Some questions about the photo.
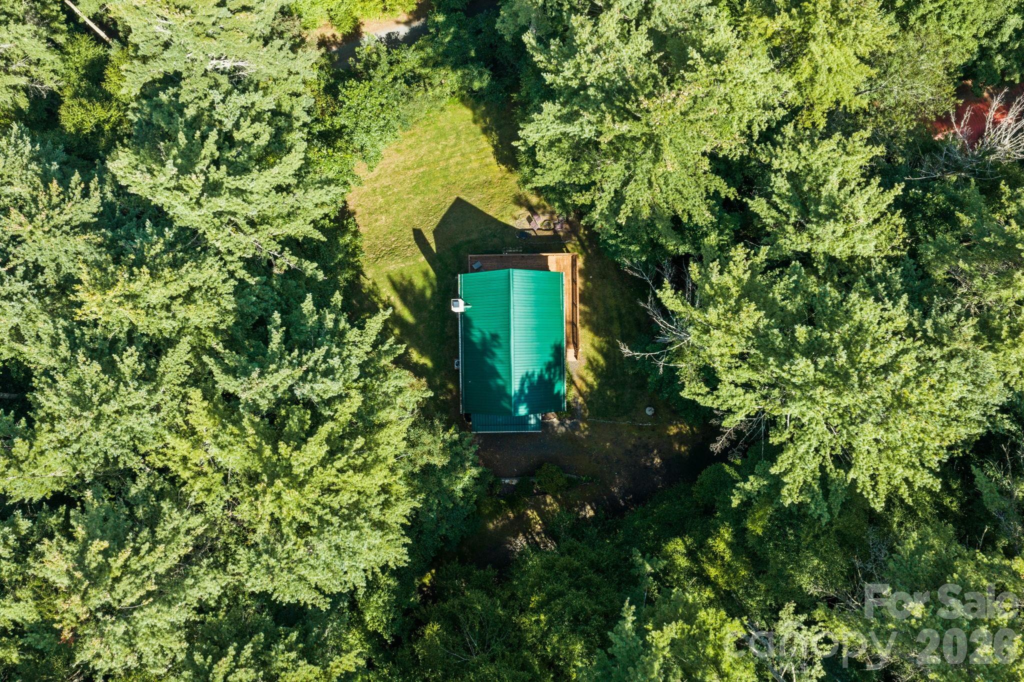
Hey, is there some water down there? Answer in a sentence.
No, the scene doesn't show any water.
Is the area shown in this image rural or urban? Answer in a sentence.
The land in this view is best described as rural.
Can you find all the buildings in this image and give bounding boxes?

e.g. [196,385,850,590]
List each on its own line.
[451,270,568,434]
